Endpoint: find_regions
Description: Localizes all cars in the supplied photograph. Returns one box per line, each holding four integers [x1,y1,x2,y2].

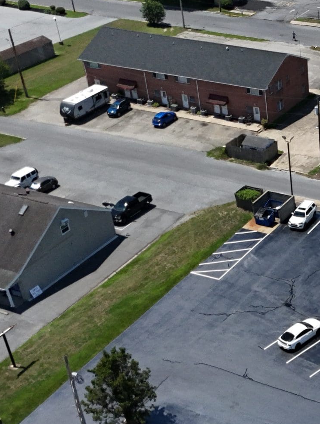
[29,173,67,195]
[150,112,179,129]
[284,198,319,230]
[1,161,45,188]
[105,98,135,117]
[270,319,320,354]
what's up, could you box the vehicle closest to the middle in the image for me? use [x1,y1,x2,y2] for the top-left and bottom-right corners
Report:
[108,192,158,225]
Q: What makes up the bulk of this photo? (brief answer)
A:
paved ground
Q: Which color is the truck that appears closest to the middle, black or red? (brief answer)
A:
black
